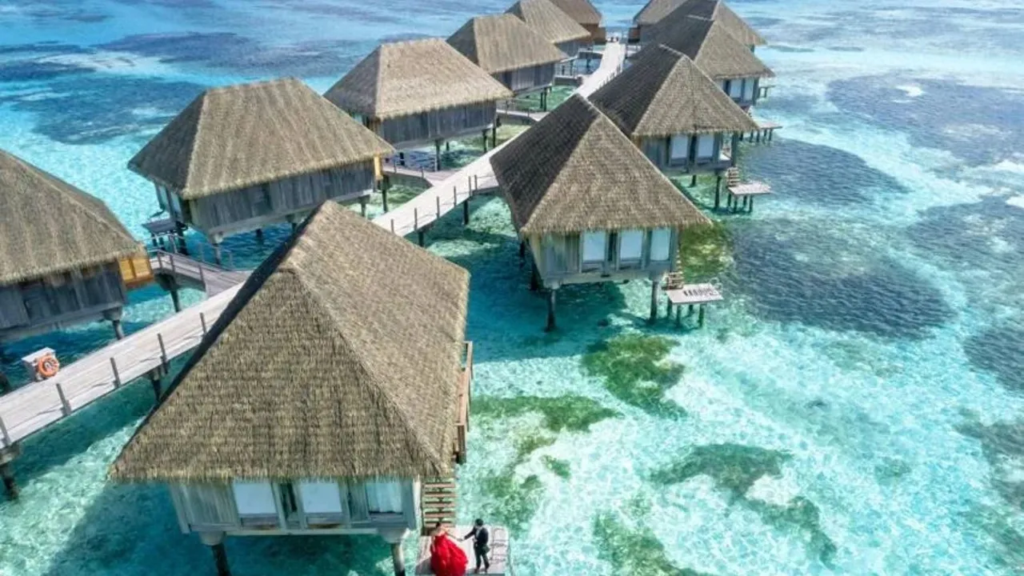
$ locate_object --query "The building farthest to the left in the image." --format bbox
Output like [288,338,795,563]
[0,143,156,391]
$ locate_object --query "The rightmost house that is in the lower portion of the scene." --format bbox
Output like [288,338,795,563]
[110,199,477,576]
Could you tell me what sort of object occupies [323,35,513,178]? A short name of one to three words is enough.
house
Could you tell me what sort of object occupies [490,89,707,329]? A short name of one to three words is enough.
house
